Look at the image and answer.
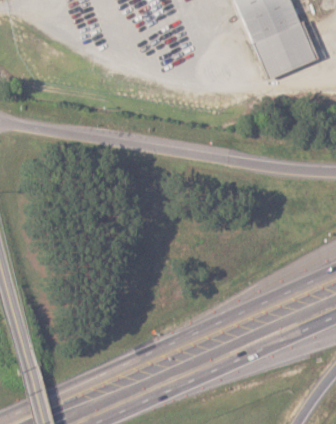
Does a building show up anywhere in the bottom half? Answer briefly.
No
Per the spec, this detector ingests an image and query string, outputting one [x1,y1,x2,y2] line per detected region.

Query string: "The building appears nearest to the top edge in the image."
[232,0,302,42]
